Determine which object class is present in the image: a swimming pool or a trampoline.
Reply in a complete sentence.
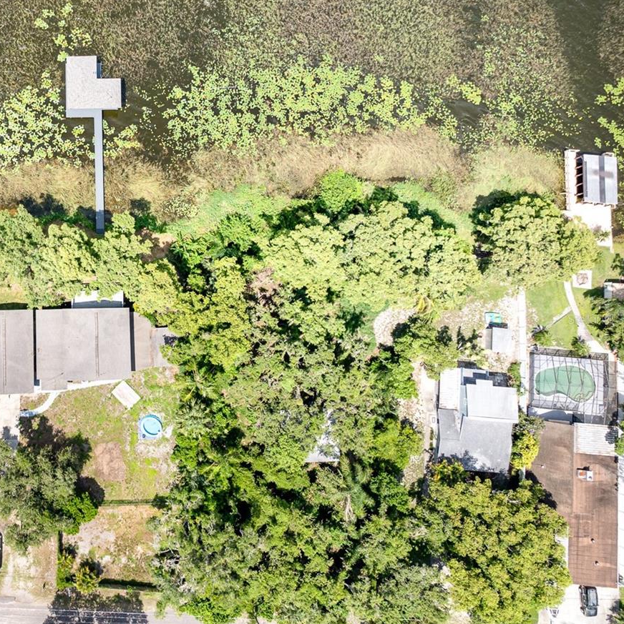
Of the two, only a swimming pool appears.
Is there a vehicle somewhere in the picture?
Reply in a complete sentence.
Yes, the image includes a vehicle.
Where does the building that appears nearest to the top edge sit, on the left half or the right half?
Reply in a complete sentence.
It is on the left.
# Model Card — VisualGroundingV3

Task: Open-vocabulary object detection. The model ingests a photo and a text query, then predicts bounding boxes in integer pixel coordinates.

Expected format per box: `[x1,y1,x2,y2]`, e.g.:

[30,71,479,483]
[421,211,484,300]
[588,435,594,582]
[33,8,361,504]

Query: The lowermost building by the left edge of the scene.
[0,290,180,394]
